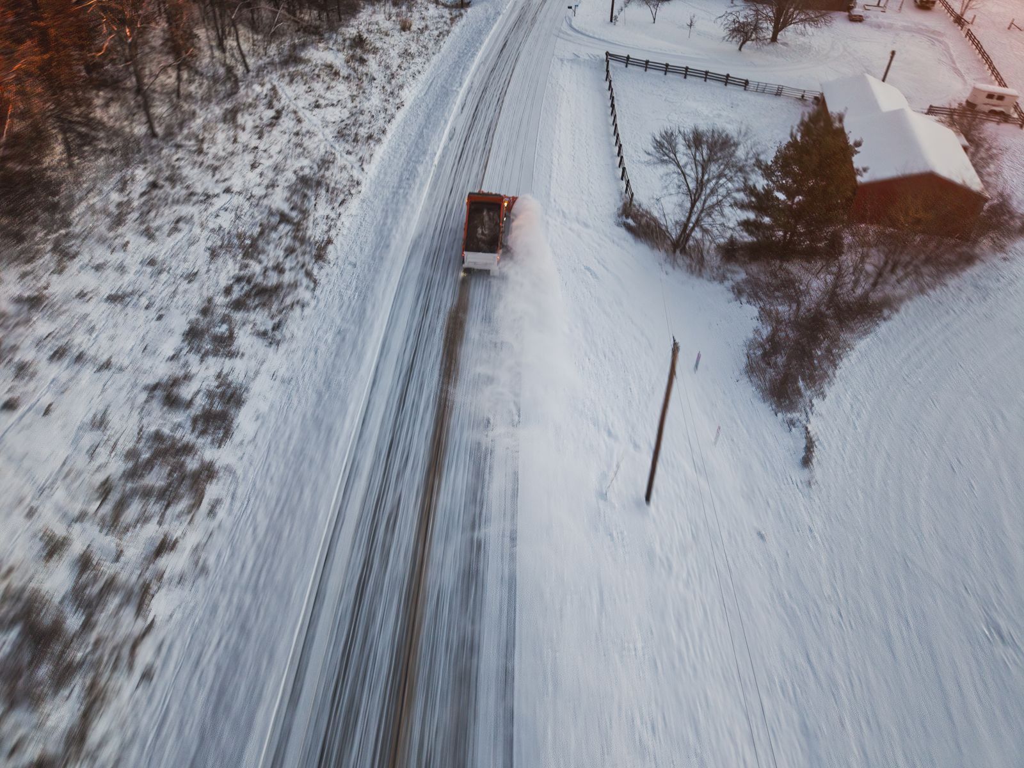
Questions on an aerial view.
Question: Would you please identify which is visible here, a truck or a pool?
truck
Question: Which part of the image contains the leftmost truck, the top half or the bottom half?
top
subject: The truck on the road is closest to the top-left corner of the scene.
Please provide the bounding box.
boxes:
[460,190,527,286]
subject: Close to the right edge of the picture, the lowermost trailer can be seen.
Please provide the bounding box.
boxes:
[959,77,1024,112]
